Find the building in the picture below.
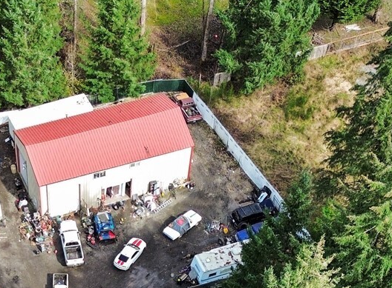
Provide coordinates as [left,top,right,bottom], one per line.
[9,95,195,219]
